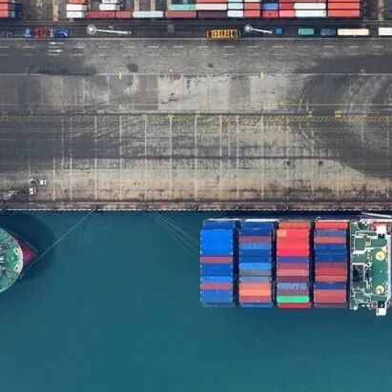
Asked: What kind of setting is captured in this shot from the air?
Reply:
port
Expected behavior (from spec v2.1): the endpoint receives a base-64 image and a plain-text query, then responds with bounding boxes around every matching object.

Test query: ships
[205,214,392,317]
[0,227,42,291]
